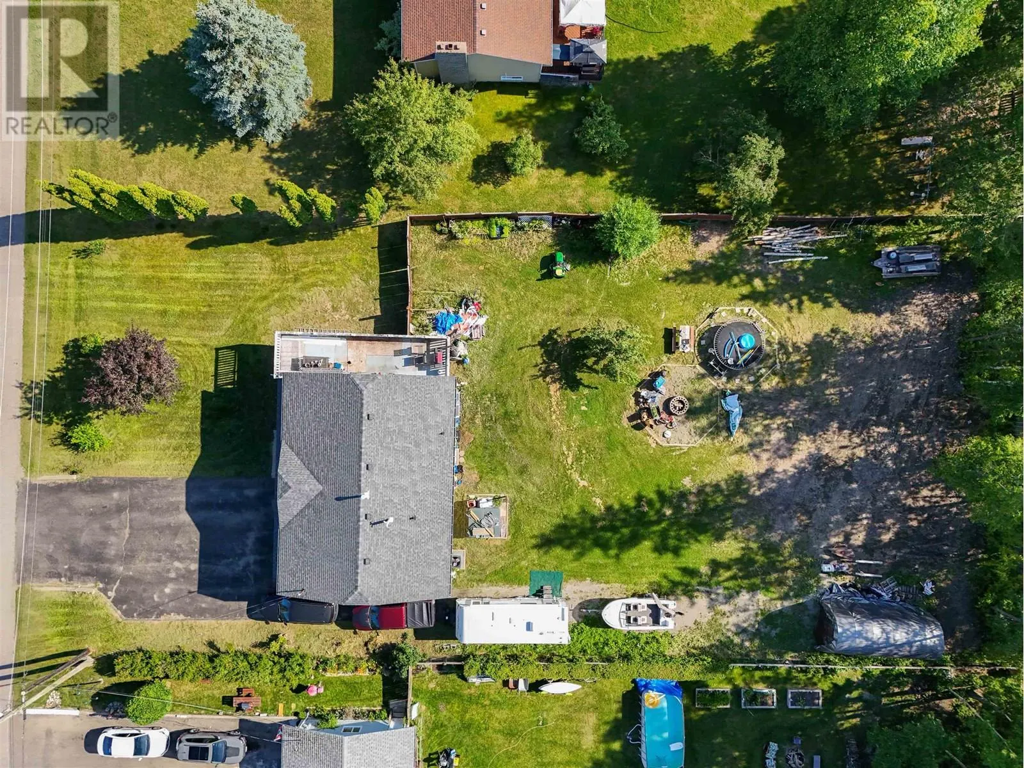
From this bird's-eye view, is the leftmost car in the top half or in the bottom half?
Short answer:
bottom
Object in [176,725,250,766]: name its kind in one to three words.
car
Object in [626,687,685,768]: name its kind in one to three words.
swimming pool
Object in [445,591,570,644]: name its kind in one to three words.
camper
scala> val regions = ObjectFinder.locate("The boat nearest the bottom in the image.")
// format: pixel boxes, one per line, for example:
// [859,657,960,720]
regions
[537,678,581,695]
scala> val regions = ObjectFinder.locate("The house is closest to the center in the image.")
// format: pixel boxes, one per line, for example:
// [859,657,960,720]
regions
[274,373,459,608]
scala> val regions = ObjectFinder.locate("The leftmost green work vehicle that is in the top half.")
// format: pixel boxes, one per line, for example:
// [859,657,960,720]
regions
[551,250,571,278]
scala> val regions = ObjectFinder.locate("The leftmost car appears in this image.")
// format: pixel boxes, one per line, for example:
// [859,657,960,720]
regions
[99,721,173,760]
